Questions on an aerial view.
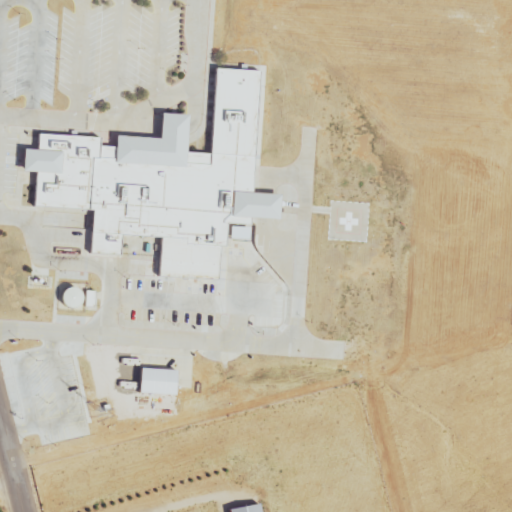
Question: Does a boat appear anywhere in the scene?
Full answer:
No, there is no boat in the image.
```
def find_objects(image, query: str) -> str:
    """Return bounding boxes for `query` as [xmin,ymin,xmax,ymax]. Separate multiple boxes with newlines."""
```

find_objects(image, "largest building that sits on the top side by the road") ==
[24,64,282,278]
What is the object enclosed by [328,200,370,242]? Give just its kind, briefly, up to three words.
helipad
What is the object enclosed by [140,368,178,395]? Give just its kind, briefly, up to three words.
building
